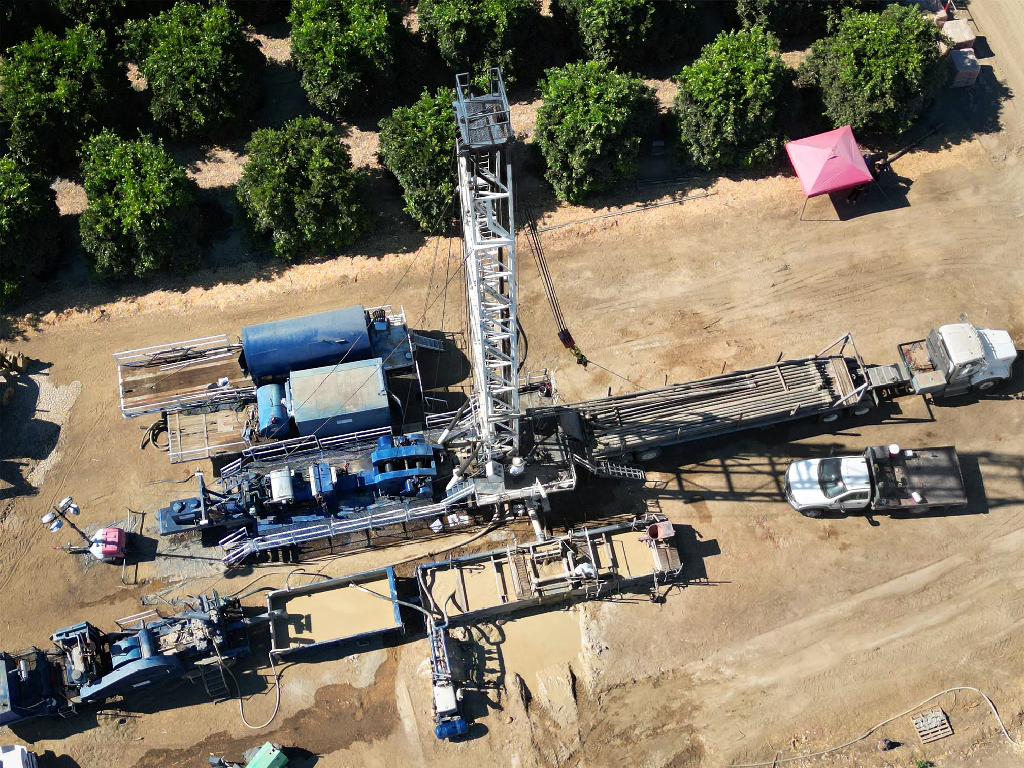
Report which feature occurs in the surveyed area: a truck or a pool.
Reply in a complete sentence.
The one in the frame is a truck.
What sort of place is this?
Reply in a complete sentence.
The area seen from above is an industrial area.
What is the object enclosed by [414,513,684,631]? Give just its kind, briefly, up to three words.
storage tank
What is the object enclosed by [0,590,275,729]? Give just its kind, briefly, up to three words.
trailer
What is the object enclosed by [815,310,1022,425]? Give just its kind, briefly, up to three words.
truck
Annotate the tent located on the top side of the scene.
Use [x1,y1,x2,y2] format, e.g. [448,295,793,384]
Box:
[781,126,892,221]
